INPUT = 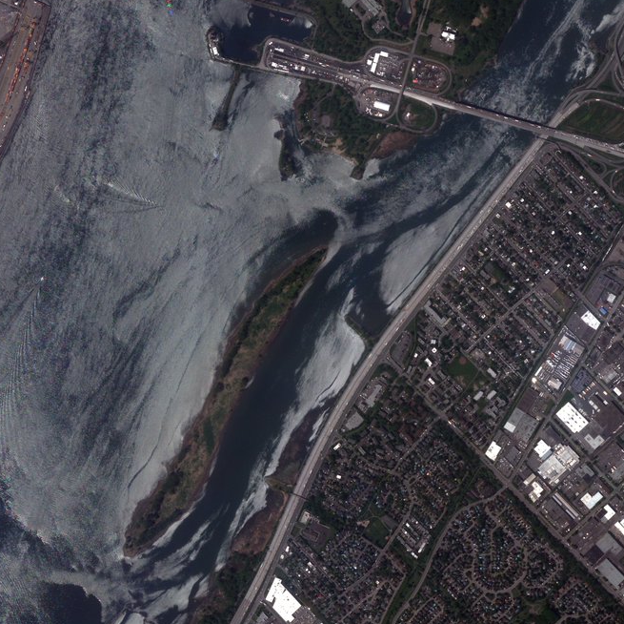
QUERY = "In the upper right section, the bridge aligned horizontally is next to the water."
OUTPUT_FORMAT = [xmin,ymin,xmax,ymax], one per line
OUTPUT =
[423,100,616,153]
